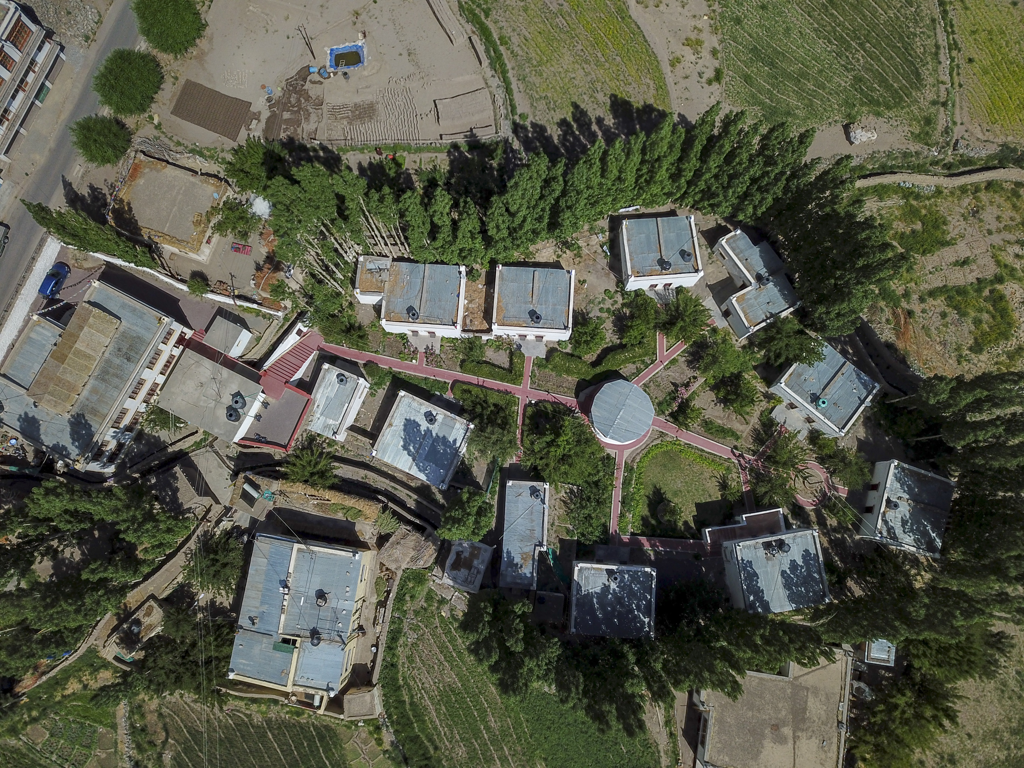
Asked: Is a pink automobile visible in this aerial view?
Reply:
No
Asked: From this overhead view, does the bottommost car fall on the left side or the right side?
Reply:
left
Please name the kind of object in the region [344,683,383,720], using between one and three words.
shed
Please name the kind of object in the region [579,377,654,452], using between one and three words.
building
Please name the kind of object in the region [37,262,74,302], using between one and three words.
car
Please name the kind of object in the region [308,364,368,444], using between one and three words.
house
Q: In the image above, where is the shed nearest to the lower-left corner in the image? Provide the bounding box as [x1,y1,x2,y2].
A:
[103,596,174,659]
